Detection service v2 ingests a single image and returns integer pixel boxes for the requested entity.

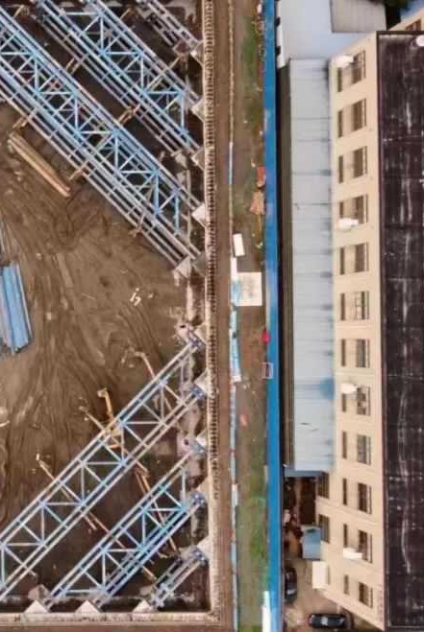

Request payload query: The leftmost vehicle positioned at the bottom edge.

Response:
[281,564,301,605]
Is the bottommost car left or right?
right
